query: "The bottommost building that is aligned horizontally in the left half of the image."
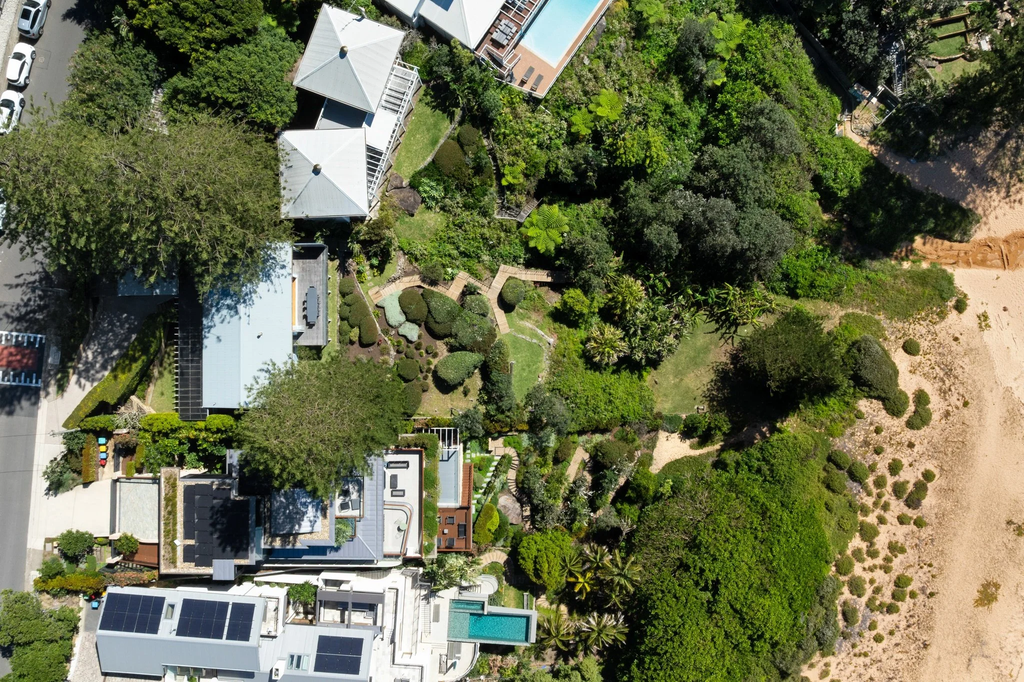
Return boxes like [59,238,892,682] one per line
[96,561,498,682]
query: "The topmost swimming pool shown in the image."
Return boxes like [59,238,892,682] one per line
[521,0,599,68]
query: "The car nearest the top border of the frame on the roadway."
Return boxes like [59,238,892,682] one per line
[19,0,53,40]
